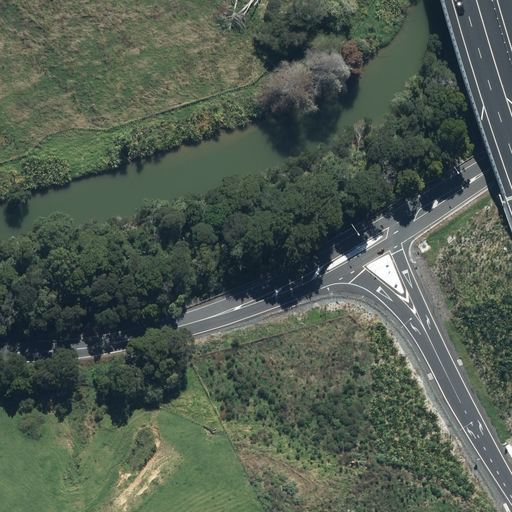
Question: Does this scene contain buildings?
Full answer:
No, no building can be seen from above.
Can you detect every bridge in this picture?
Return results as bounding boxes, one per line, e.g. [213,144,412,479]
[440,0,512,208]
